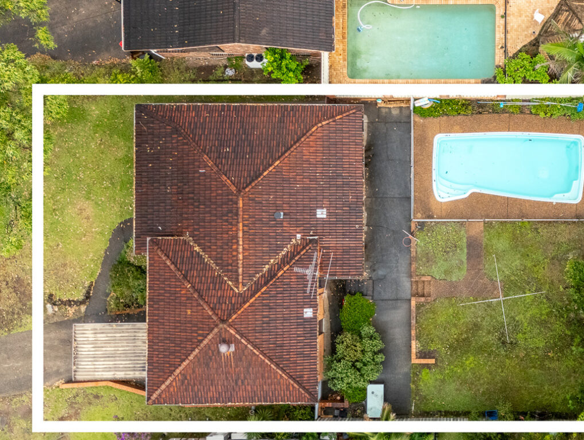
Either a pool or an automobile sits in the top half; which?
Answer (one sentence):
Looking in the top half, you will find a pool.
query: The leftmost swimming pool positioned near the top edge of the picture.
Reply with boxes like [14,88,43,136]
[342,0,501,84]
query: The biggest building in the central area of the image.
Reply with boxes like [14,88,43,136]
[131,100,367,408]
